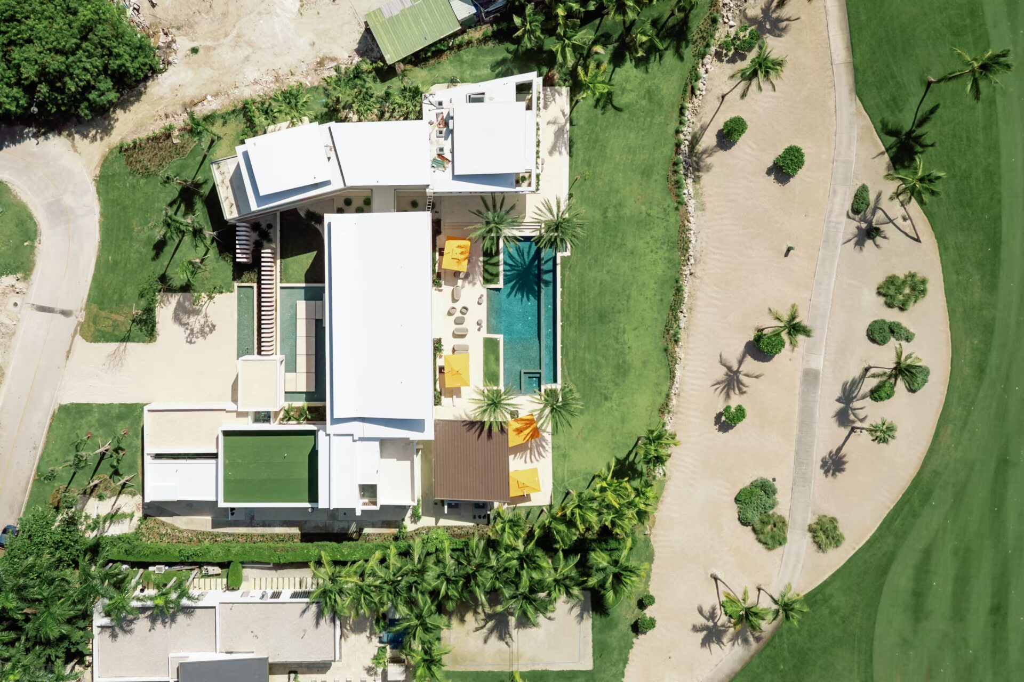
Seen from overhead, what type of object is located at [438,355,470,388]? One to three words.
umbrella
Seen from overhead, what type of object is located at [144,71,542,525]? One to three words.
house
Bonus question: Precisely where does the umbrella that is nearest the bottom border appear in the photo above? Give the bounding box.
[510,468,541,503]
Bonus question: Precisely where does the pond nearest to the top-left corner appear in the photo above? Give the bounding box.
[234,282,256,359]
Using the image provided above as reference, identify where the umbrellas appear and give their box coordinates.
[510,415,539,446]
[510,468,541,503]
[439,238,471,272]
[438,355,470,388]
